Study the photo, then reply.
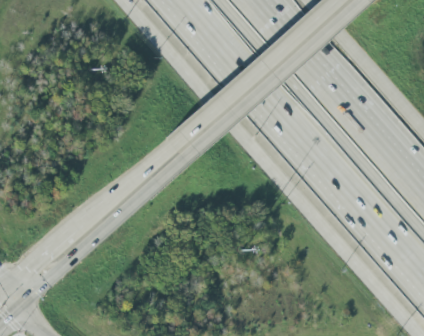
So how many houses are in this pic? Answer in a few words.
none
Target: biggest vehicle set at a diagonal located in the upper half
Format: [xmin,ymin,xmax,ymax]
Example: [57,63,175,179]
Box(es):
[341,109,364,135]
